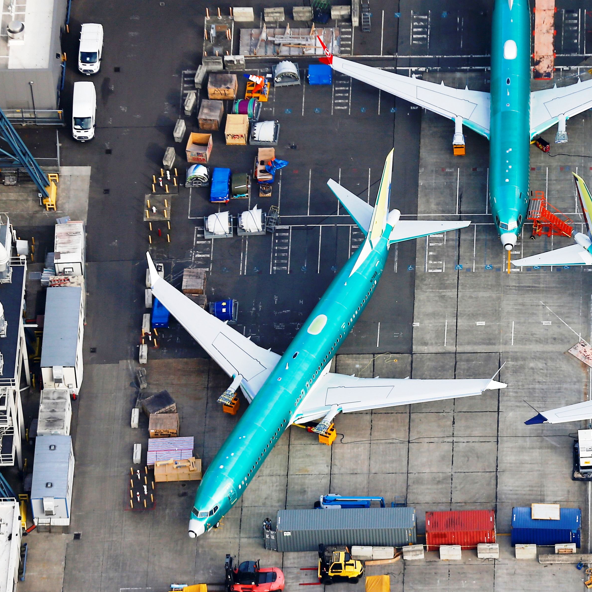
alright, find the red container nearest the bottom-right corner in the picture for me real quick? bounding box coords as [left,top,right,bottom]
[427,512,497,551]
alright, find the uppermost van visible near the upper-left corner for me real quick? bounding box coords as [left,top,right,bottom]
[75,18,104,80]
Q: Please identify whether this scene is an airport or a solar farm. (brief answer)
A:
airport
